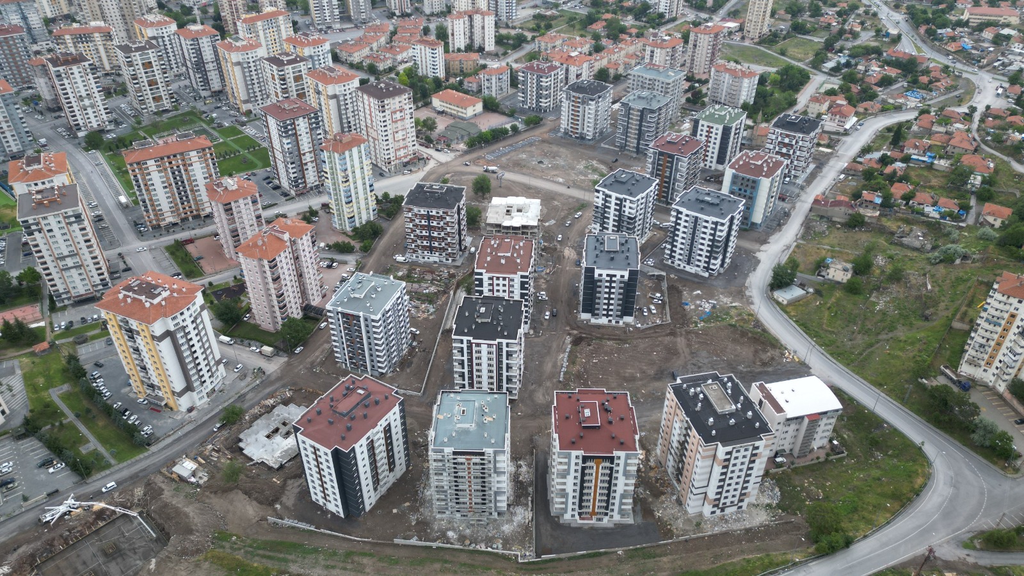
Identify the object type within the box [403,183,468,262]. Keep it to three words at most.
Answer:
building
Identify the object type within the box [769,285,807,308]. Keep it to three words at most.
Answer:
house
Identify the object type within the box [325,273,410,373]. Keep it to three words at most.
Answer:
building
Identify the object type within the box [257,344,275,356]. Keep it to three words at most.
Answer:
vehicle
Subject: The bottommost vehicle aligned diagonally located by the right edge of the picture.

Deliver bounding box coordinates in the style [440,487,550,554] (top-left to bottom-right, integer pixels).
[939,365,974,390]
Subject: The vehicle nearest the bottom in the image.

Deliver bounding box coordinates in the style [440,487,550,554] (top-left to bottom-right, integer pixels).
[35,490,159,544]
